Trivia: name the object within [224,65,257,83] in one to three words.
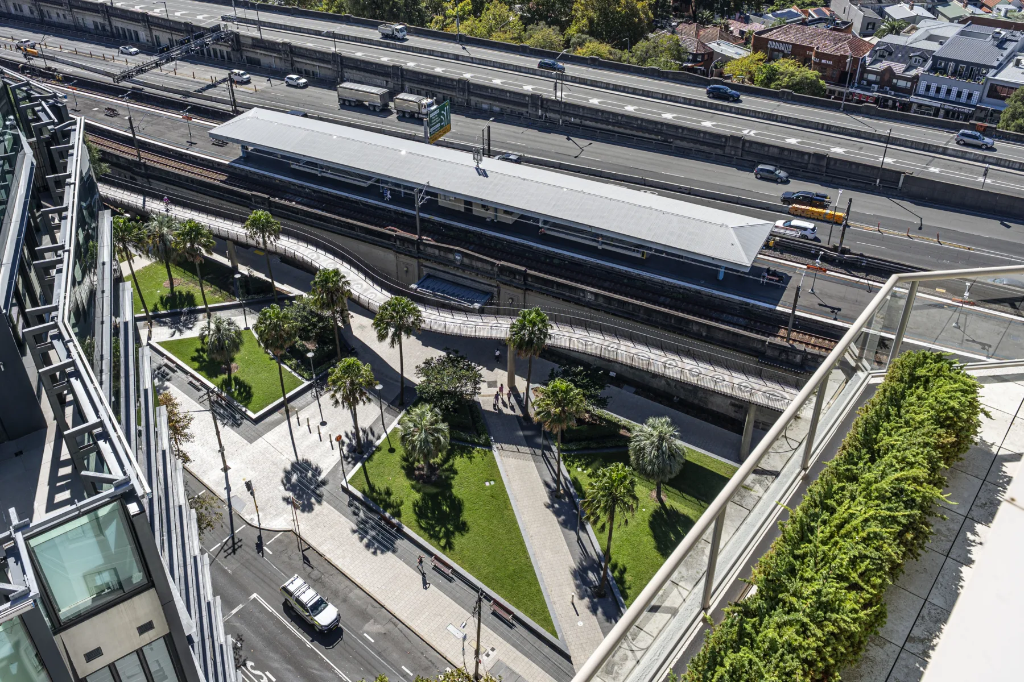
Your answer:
vehicle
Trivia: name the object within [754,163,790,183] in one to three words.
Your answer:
car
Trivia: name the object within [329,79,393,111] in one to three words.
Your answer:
trailer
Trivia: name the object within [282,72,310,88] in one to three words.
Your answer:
car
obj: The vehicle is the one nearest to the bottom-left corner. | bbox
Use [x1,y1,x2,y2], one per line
[280,575,347,638]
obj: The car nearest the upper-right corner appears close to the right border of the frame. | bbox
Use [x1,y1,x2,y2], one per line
[956,130,994,149]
